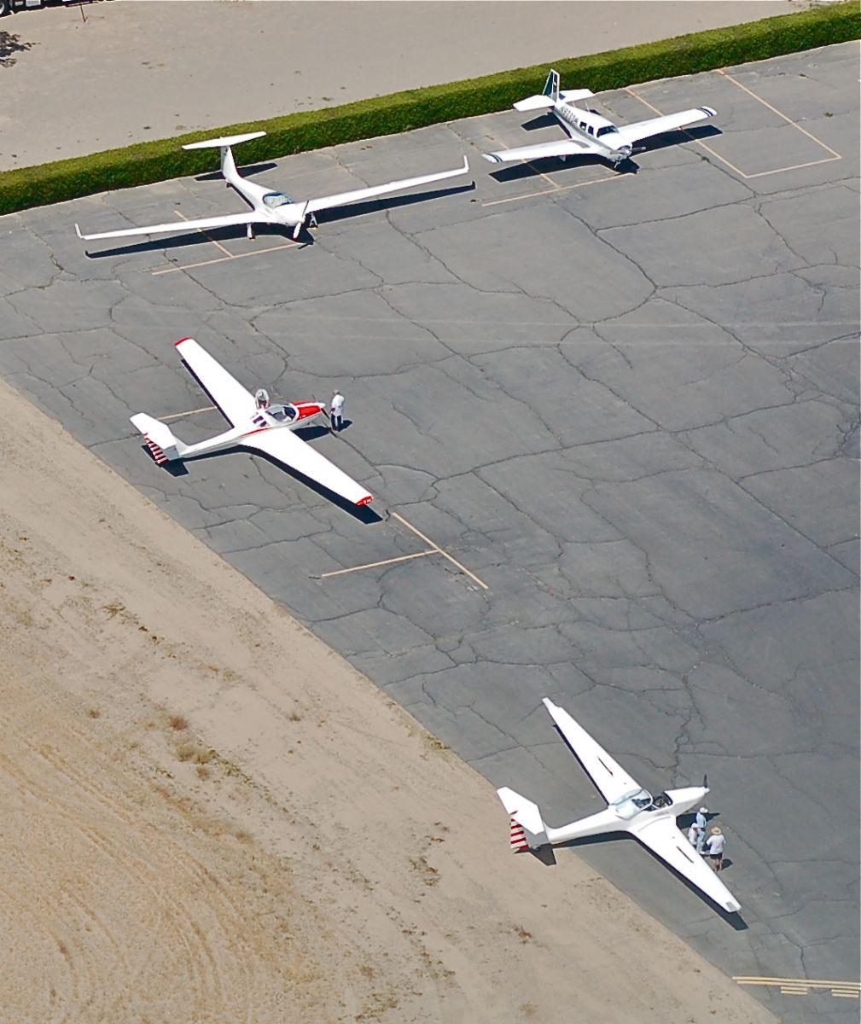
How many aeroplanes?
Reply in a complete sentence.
The picture shows 4 aeroplanes.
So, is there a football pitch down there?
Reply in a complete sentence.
No, no football pitch is visible in the view.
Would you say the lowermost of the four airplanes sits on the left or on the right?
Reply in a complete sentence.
The lowermost of the four airplanes sits on the right side.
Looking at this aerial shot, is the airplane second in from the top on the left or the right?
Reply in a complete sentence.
The airplane second in from the top appears in the left half of the scene.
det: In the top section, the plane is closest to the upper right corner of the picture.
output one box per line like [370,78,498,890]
[478,68,717,174]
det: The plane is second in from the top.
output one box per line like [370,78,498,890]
[73,133,471,244]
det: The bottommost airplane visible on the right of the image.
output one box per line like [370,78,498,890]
[496,700,744,910]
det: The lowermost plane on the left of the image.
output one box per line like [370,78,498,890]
[128,339,372,504]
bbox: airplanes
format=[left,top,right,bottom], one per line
[496,700,744,910]
[73,133,471,244]
[128,339,372,504]
[478,68,717,174]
